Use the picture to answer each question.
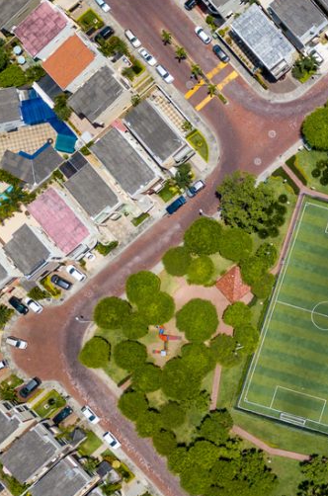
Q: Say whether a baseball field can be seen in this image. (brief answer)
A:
No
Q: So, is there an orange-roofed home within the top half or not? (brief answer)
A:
Yes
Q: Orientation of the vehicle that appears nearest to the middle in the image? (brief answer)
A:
diagonally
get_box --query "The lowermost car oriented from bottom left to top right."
[54,405,73,424]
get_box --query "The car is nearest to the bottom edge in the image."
[102,429,121,449]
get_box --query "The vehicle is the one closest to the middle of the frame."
[165,194,187,214]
